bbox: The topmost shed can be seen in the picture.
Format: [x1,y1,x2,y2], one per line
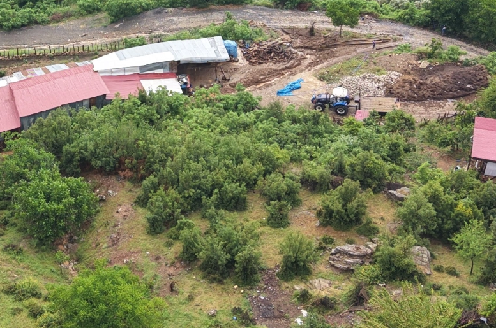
[92,36,230,89]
